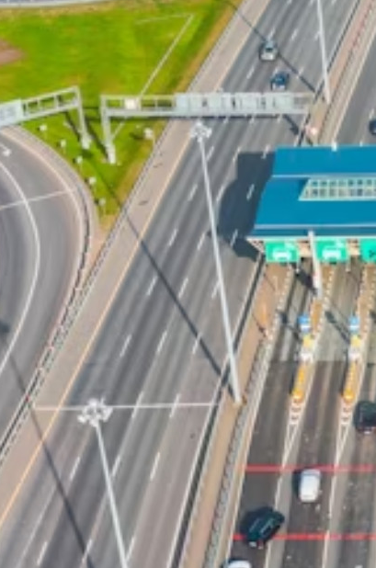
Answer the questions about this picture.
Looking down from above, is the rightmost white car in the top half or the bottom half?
bottom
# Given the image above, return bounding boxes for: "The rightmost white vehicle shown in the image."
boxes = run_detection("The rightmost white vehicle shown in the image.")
[297,470,321,504]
